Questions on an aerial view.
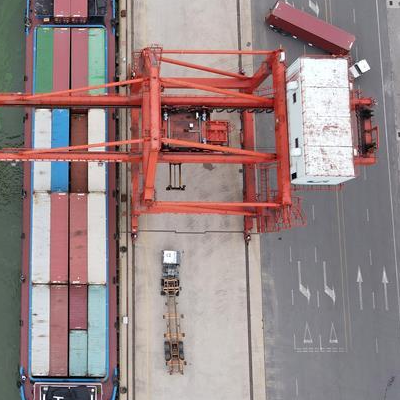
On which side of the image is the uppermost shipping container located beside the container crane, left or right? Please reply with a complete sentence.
The uppermost shipping container located beside the container crane appears in the right half of the scene.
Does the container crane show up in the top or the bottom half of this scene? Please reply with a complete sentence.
You can find the container crane in the top half.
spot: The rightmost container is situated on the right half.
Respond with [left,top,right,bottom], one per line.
[266,0,356,55]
